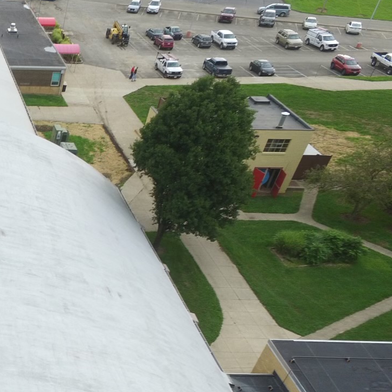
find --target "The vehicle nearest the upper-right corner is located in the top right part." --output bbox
[344,20,363,34]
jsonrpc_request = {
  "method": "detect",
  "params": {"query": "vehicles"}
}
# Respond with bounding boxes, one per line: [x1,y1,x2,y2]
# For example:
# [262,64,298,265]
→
[144,25,165,41]
[211,31,240,50]
[161,24,192,40]
[200,55,235,77]
[127,0,142,14]
[104,20,135,49]
[302,15,320,29]
[154,35,175,49]
[154,49,185,78]
[247,59,279,77]
[146,0,162,14]
[192,34,215,48]
[256,1,292,17]
[273,28,306,50]
[219,8,236,23]
[371,52,392,75]
[329,53,363,75]
[344,20,363,34]
[303,26,342,52]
